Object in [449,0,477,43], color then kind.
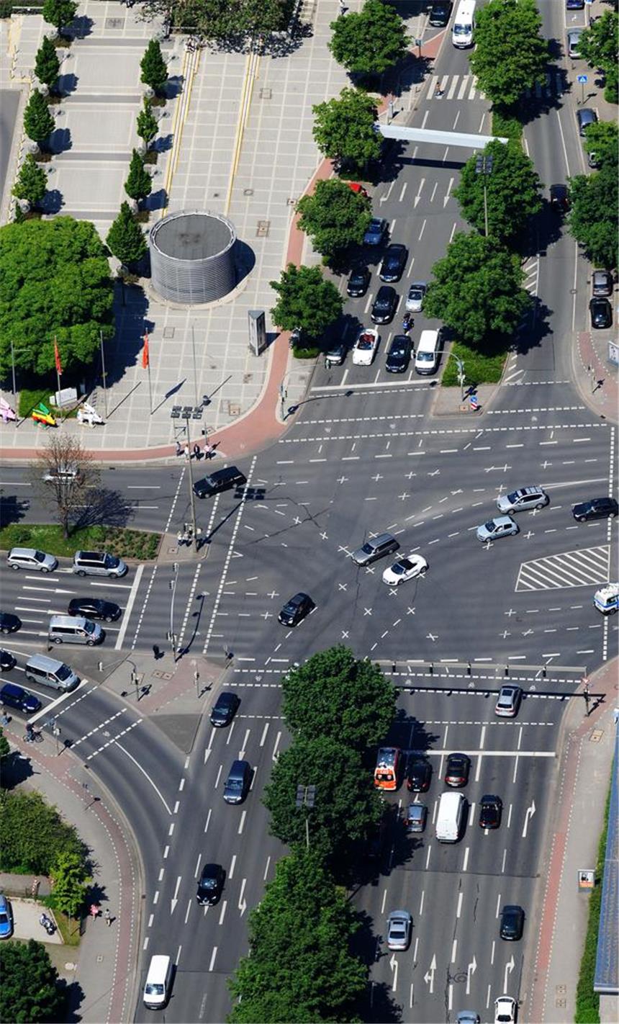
white van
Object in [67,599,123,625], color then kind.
black car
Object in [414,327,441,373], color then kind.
white vehicle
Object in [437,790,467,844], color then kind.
white van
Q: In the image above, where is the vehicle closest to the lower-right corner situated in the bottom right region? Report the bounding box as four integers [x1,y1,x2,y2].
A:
[493,996,519,1024]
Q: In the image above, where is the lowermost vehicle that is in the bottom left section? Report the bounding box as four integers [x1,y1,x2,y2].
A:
[142,953,173,1005]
